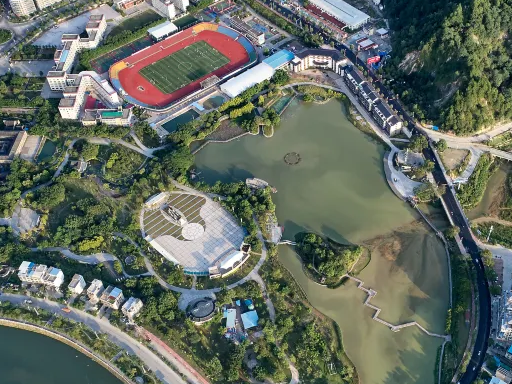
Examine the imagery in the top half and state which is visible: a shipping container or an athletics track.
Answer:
athletics track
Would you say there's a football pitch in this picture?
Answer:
Yes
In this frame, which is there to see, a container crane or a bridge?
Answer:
bridge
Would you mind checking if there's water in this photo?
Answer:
Yes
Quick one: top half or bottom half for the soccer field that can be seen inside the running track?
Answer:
top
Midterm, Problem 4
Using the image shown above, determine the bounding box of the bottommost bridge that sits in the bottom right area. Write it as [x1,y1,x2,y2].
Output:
[347,274,451,341]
